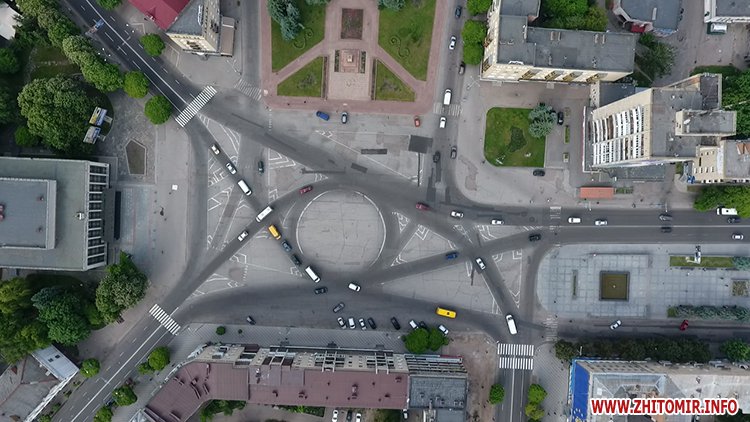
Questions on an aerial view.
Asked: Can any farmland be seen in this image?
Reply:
No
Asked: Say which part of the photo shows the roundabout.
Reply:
center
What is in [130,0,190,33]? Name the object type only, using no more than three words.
house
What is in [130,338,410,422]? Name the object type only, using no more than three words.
building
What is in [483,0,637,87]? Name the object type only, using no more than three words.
building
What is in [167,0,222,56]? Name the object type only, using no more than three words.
house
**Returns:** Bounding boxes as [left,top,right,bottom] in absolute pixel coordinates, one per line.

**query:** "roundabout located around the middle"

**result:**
[285,176,397,288]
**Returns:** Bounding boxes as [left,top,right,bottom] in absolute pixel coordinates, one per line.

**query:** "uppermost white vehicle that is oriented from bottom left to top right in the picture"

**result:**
[257,207,272,220]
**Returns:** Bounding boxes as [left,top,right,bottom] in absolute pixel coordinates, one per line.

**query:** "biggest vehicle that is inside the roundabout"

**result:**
[305,265,319,281]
